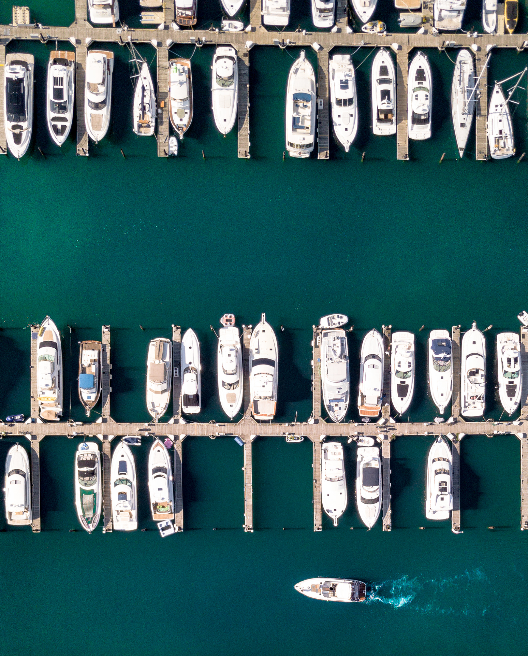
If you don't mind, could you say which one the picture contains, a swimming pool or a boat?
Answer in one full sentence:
There is a boat in the scene.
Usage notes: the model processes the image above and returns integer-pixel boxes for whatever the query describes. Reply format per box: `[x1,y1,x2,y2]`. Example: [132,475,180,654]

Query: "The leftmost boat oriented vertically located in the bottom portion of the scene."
[4,435,33,526]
